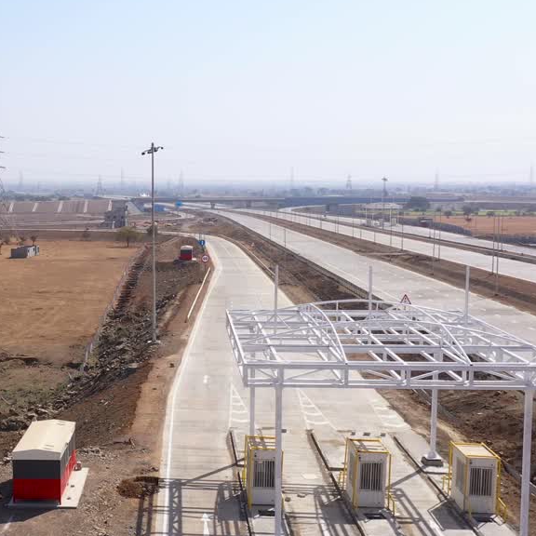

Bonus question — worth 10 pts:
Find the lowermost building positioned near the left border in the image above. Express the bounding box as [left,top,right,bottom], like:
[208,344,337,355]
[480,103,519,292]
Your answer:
[10,419,95,507]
